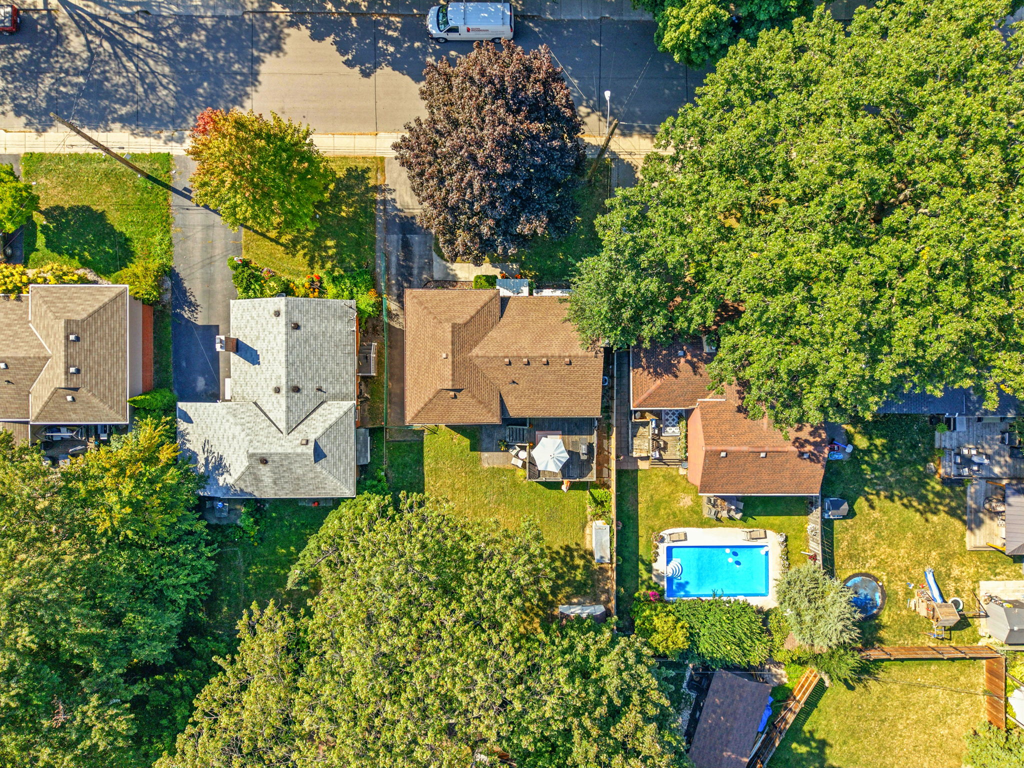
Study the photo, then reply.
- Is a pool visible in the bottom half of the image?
Yes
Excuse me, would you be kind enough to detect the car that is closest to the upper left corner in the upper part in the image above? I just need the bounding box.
[0,5,27,40]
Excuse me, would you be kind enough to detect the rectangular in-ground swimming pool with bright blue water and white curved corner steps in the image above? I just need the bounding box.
[659,542,773,601]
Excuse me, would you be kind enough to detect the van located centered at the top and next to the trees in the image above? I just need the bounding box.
[427,0,513,44]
